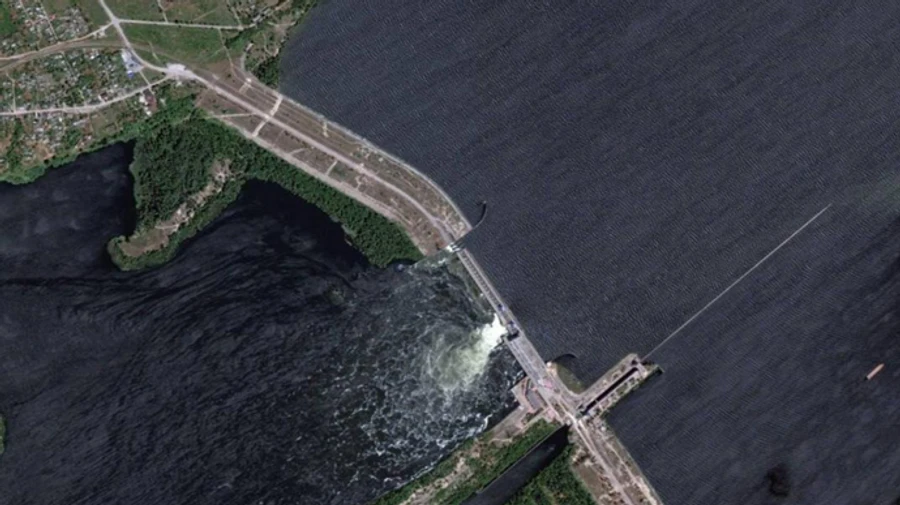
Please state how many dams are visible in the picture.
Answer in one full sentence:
Looking from above, you can make out 2 dams.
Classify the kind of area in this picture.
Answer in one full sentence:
What you see here is a port.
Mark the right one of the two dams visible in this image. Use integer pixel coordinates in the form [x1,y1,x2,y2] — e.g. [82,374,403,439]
[458,249,519,334]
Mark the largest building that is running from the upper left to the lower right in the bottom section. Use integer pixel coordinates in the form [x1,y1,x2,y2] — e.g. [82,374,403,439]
[507,331,551,385]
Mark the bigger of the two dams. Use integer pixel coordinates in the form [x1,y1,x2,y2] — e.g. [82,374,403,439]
[192,53,468,256]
